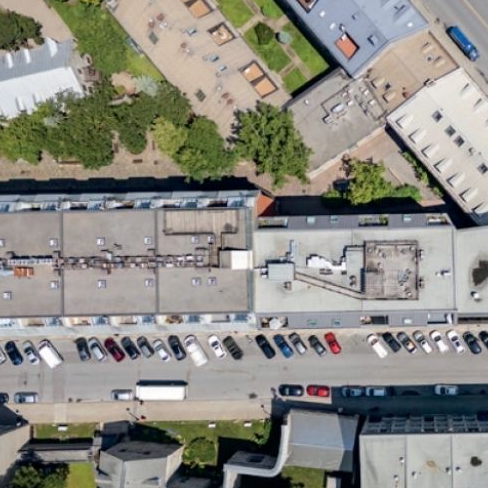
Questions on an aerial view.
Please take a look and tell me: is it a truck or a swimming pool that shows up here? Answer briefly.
truck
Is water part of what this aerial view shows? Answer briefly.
No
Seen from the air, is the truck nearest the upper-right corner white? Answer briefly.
No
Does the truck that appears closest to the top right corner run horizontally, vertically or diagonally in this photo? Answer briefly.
diagonally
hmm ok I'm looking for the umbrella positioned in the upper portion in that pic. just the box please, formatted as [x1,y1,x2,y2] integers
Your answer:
[277,30,291,43]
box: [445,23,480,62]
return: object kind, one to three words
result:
truck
